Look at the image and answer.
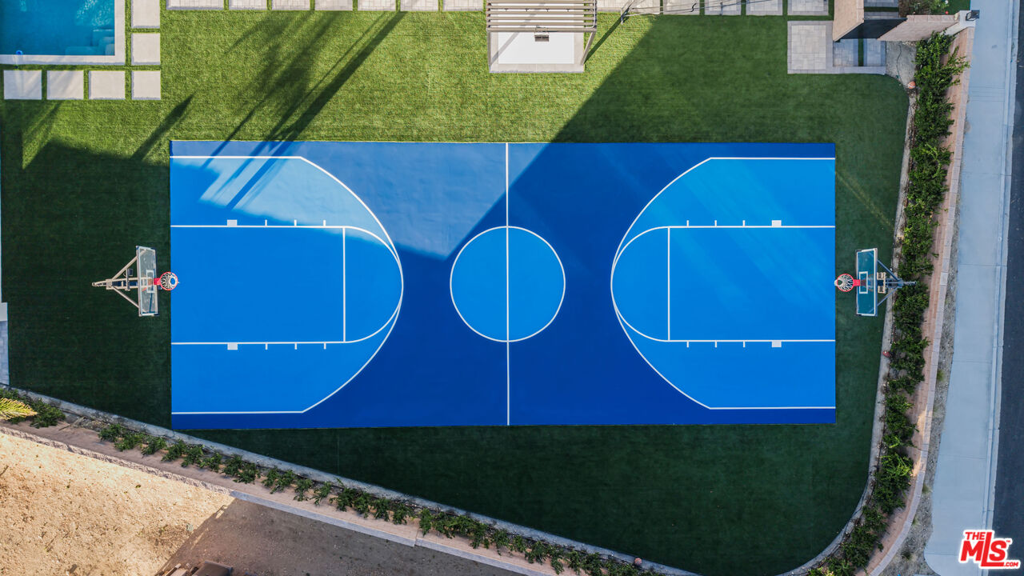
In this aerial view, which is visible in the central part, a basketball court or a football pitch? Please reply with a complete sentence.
The feature located in the central part is a basketball court.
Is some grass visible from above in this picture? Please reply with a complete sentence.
Yes, some grass is visible.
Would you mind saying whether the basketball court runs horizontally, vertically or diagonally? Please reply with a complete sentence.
The basketball court is laid out horizontally.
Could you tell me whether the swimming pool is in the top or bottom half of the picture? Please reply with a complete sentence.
Seen from above, the swimming pool lies in the top half of the view.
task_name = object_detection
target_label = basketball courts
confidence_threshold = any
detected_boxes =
[169,141,836,430]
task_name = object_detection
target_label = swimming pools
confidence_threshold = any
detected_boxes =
[0,0,127,66]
